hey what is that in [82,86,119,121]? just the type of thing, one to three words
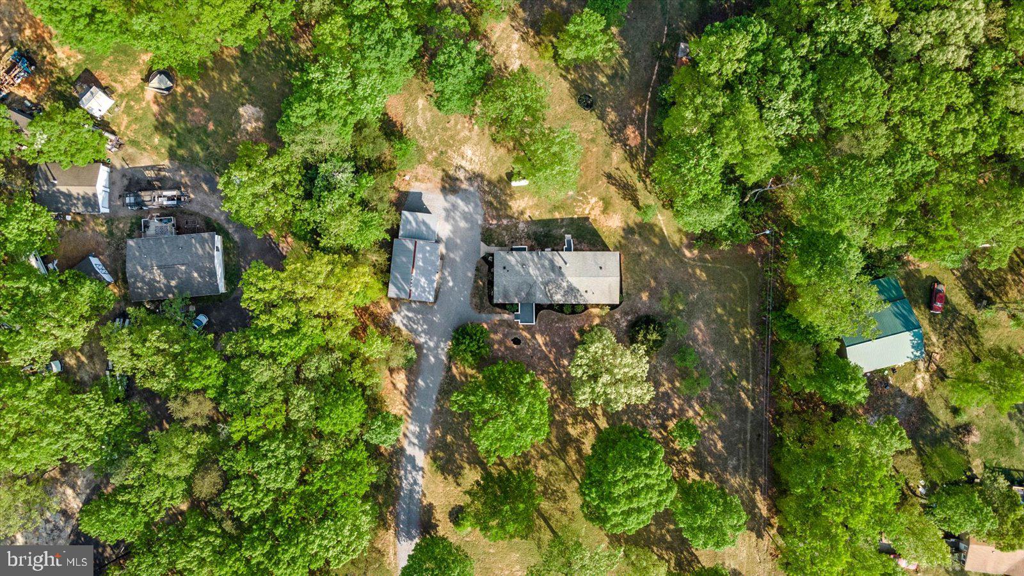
vehicle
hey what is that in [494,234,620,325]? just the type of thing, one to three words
house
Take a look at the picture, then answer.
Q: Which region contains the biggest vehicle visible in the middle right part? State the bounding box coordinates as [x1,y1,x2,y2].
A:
[928,282,945,314]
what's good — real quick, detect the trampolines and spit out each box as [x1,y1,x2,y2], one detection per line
[149,70,176,95]
[577,94,593,110]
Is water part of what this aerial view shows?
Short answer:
No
